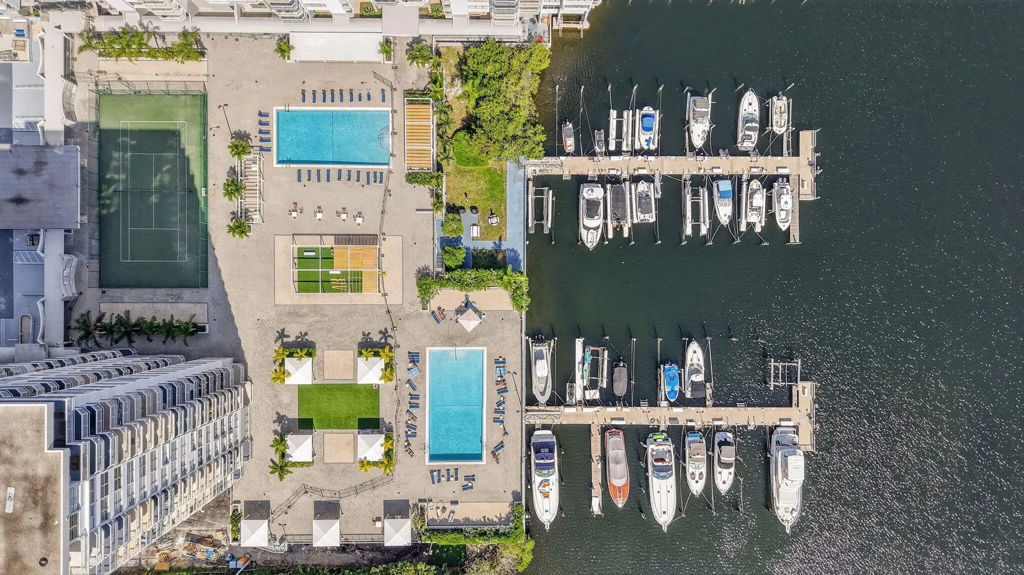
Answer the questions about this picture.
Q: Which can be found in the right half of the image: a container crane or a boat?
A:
boat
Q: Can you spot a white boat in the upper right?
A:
Yes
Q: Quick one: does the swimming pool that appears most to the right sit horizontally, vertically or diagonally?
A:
vertically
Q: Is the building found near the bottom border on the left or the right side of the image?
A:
left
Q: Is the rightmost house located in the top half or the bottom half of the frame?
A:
top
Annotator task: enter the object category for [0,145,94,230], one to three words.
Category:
building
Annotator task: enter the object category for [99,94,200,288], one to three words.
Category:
tennis court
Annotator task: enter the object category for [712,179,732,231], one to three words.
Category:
boat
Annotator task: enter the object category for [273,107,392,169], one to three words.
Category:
swimming pool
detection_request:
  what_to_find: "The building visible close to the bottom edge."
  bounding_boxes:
[0,347,252,575]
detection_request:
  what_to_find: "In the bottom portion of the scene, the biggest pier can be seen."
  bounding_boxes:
[525,382,818,451]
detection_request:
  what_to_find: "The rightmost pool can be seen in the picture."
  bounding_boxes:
[426,345,487,465]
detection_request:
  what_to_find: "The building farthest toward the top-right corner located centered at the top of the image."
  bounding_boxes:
[552,0,596,39]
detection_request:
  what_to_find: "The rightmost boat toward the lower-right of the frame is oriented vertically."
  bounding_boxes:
[768,425,806,539]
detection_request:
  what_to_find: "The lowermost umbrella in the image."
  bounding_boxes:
[453,304,486,336]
